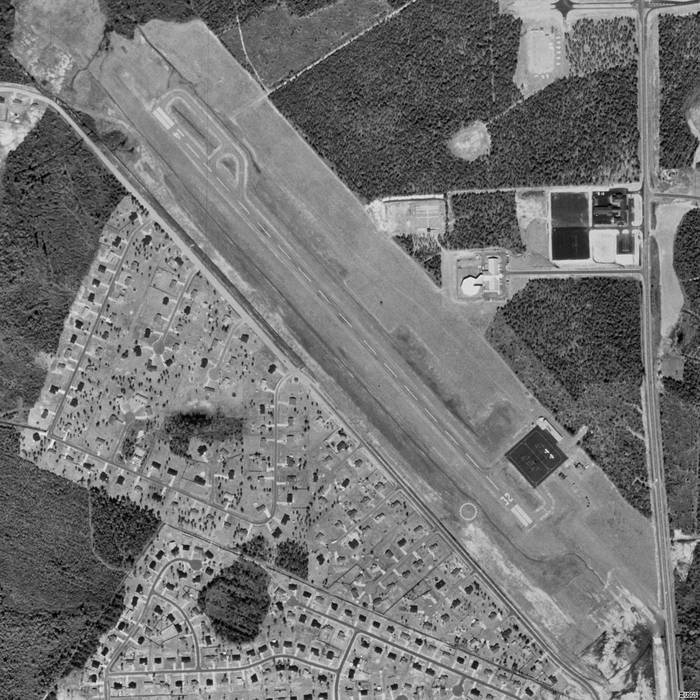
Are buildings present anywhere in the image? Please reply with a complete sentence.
Yes, the picture does show a building.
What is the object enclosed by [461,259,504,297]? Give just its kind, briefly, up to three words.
building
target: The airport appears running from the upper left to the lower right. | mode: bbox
[149,89,569,535]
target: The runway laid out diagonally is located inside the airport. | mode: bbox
[149,103,540,535]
